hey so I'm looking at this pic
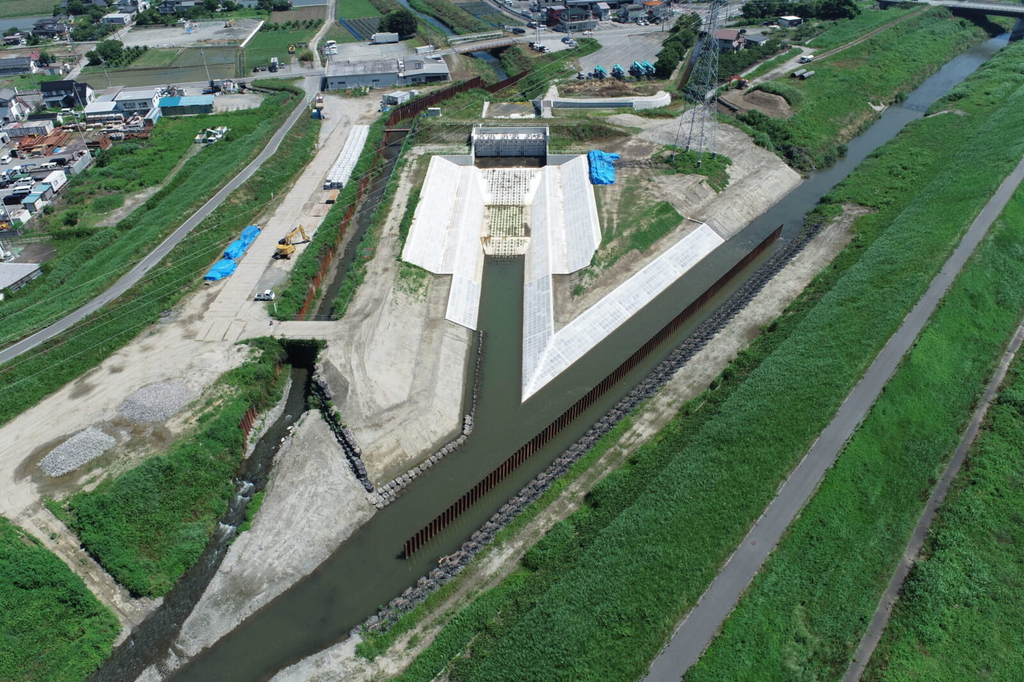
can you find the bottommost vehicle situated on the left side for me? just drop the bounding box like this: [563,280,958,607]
[250,286,273,300]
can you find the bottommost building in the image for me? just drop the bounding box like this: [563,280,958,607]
[0,260,45,312]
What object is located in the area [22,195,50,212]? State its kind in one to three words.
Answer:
shed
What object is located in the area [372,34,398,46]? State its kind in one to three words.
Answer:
vehicle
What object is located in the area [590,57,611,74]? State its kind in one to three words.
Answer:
work vehicle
